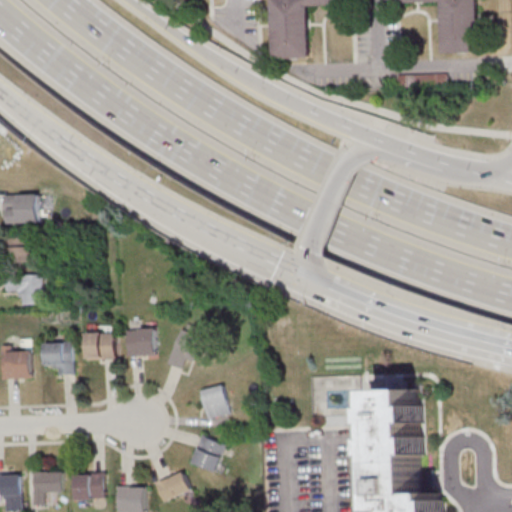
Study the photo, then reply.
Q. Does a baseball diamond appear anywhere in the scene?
No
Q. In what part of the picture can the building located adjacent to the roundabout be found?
bottom right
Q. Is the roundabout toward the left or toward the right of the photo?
right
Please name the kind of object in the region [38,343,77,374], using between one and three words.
house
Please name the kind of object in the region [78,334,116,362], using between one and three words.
house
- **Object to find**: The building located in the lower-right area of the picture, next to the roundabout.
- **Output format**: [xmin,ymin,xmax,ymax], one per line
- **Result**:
[346,388,445,512]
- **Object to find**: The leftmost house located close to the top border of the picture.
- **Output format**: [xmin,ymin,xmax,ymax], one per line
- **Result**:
[268,0,336,59]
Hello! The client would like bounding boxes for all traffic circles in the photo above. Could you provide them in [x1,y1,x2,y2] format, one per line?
[439,428,512,512]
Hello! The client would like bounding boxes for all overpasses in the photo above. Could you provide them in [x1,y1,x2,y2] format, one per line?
[294,145,392,255]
